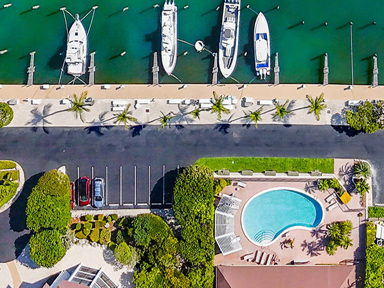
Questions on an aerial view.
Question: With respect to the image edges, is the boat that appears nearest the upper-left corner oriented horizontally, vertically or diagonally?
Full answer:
In this picture, the boat that appears nearest the upper-left corner lies vertically.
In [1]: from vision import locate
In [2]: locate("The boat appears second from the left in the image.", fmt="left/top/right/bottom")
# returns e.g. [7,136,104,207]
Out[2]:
[161,0,178,76]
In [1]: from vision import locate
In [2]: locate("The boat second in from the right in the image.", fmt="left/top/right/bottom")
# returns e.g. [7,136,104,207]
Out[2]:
[220,0,241,78]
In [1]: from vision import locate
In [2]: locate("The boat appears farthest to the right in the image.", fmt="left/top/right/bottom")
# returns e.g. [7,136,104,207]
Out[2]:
[253,13,270,81]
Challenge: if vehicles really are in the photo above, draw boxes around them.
[90,176,106,208]
[76,176,91,206]
[67,181,76,209]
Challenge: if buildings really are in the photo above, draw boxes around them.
[216,258,354,288]
[44,259,122,288]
